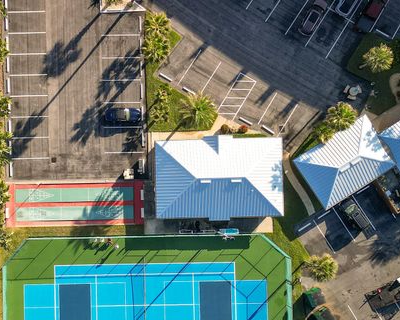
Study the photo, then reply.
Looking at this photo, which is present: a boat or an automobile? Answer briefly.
automobile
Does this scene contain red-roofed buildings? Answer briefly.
No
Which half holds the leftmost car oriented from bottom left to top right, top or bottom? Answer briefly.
top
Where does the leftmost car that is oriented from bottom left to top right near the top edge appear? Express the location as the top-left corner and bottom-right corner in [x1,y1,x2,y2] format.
[298,0,329,31]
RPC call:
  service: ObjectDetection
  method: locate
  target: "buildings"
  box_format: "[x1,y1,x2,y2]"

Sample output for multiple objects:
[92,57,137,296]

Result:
[292,115,395,209]
[154,134,284,221]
